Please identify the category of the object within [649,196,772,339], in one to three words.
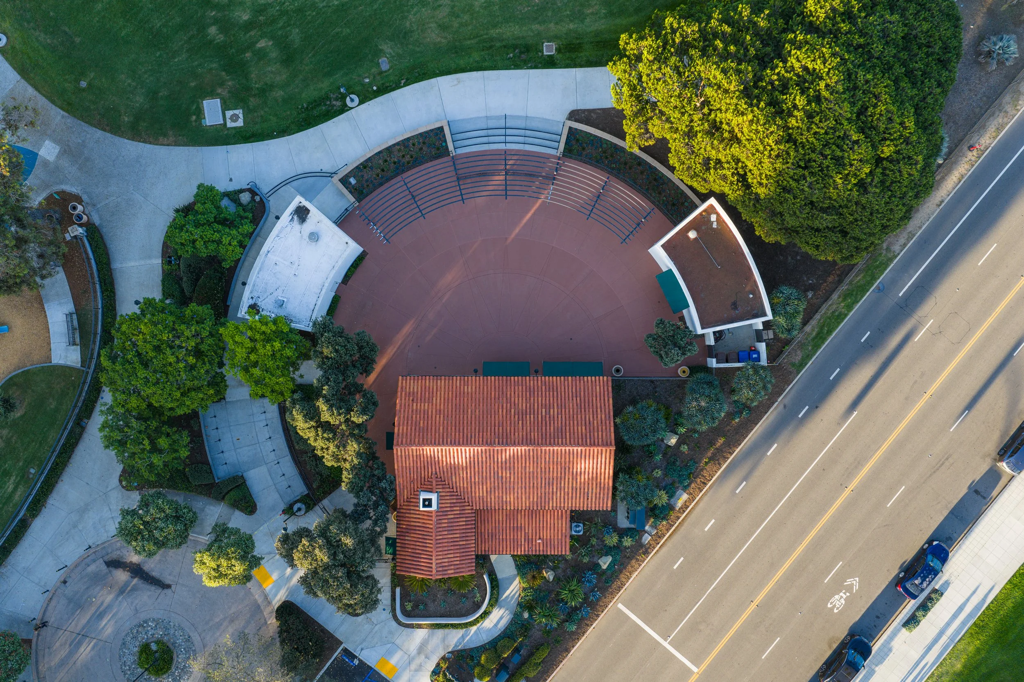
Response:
building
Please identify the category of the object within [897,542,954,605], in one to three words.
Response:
car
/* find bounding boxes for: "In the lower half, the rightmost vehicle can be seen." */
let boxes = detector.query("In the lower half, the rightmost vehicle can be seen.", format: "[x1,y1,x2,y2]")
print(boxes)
[1002,432,1024,477]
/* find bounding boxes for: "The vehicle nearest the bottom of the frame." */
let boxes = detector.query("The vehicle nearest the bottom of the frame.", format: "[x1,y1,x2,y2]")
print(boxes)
[821,639,876,682]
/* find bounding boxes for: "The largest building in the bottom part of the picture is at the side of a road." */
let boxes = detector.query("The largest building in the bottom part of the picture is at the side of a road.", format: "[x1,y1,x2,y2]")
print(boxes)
[385,361,617,582]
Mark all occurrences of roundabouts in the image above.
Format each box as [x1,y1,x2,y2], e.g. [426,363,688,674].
[40,542,273,682]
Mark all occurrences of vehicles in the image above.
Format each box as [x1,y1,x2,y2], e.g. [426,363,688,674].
[821,639,876,682]
[897,542,954,605]
[1002,432,1024,477]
